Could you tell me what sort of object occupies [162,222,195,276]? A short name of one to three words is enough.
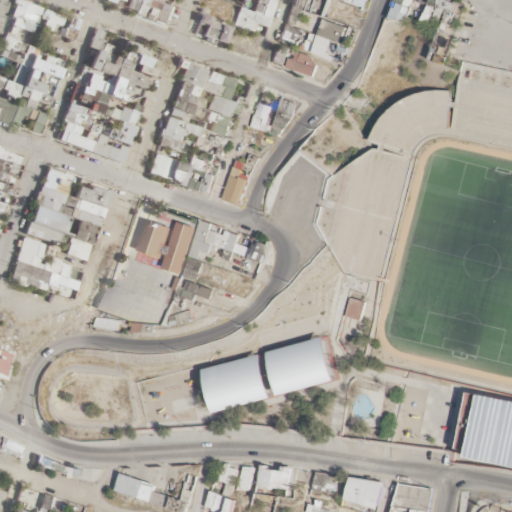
building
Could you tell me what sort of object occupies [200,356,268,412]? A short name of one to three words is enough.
building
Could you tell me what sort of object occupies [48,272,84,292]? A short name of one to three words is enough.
house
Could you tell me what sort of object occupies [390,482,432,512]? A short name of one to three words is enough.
house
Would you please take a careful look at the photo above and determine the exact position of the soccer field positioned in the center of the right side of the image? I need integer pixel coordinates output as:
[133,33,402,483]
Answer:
[388,150,512,376]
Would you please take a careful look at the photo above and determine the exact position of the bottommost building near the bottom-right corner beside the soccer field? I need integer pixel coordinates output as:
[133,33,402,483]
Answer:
[452,391,512,468]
